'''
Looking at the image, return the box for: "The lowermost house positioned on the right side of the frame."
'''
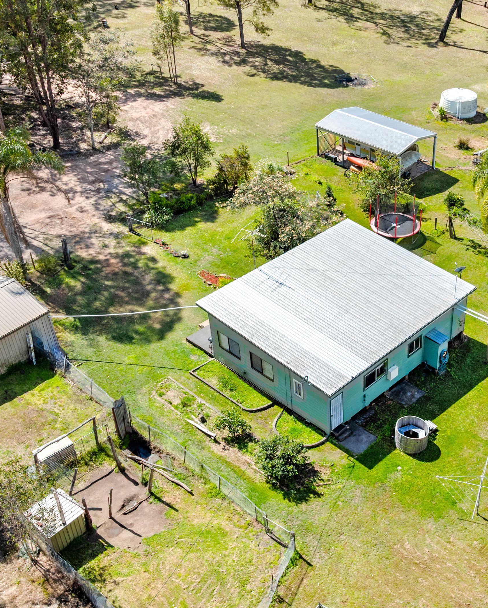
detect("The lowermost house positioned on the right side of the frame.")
[194,218,479,437]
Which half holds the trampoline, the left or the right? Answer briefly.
right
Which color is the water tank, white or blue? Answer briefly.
white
